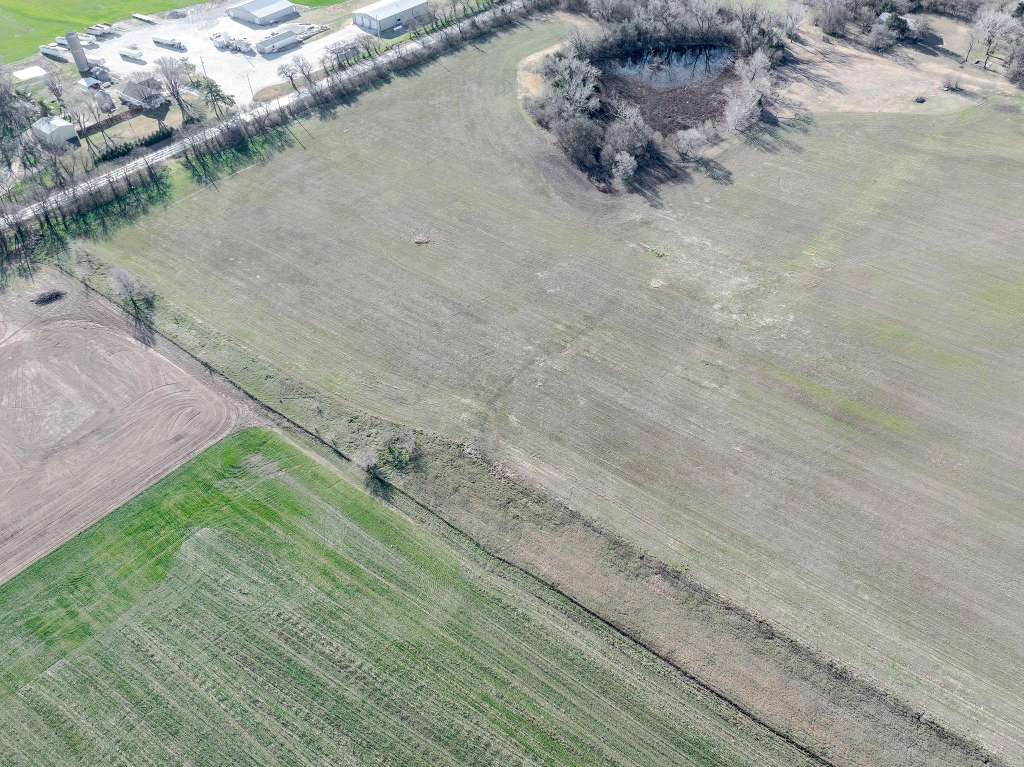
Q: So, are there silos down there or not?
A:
Yes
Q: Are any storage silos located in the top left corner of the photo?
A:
Yes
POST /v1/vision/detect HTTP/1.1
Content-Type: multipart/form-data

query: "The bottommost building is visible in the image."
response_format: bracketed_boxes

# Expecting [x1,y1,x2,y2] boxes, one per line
[28,112,78,143]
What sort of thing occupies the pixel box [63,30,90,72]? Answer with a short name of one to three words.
silo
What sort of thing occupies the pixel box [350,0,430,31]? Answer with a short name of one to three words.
shed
